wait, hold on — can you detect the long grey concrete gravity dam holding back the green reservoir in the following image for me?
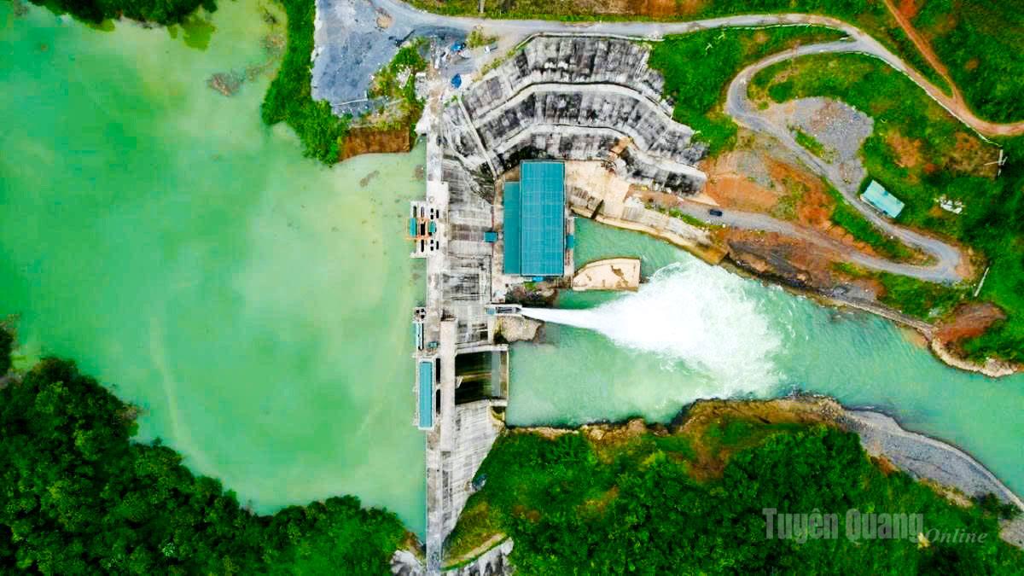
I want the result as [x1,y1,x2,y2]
[410,121,508,559]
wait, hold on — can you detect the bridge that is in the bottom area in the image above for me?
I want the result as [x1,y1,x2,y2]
[440,319,457,450]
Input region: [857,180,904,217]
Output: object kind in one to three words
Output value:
house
